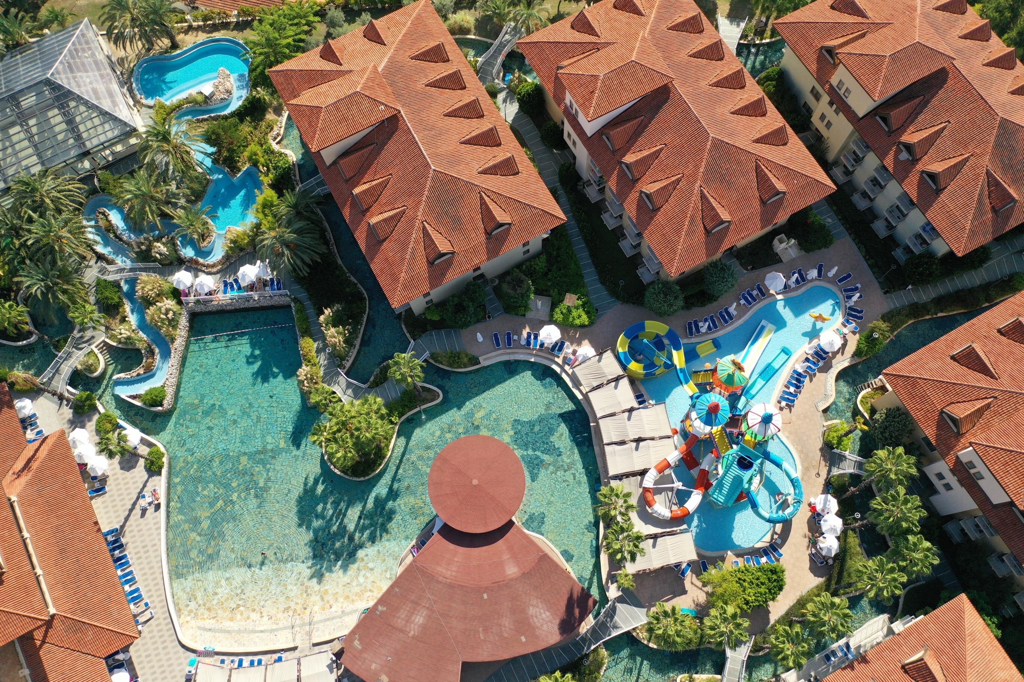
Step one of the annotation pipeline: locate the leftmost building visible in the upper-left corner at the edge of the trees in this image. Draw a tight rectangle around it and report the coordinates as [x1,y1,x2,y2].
[0,16,147,211]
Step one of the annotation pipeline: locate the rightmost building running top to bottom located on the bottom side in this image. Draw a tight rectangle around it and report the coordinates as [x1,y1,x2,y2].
[870,293,1024,645]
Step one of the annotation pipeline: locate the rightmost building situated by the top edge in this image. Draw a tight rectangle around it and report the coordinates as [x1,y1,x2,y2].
[777,0,1024,268]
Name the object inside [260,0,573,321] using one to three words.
building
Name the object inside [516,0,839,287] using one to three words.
building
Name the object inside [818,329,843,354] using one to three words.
umbrella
